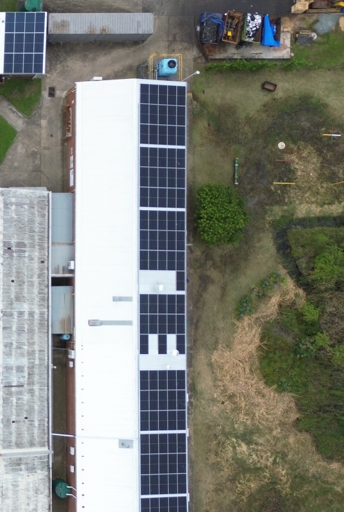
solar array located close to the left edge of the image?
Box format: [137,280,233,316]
[4,12,45,73]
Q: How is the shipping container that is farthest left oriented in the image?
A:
from left to right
